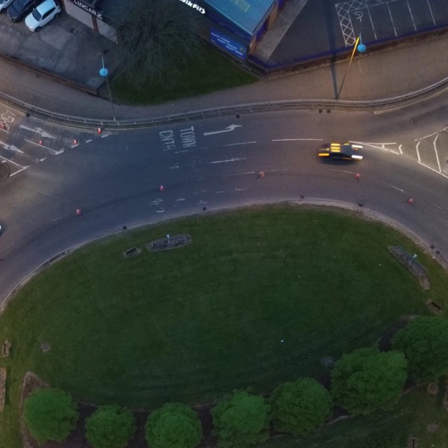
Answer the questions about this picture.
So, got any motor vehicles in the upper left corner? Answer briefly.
Yes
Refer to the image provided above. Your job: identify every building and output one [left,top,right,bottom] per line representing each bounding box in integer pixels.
[59,0,150,43]
[153,0,286,61]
